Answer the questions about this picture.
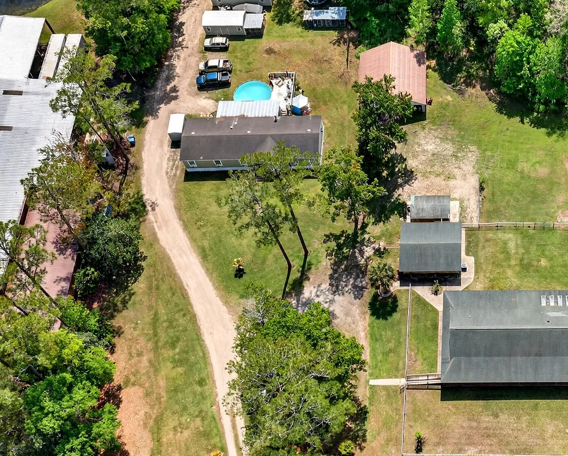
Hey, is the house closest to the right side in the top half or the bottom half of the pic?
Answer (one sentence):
The bottom half of the photo is where the house closest to the right side is.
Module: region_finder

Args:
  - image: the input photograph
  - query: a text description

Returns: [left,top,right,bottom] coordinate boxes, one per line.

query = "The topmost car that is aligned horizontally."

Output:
[202,37,231,51]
